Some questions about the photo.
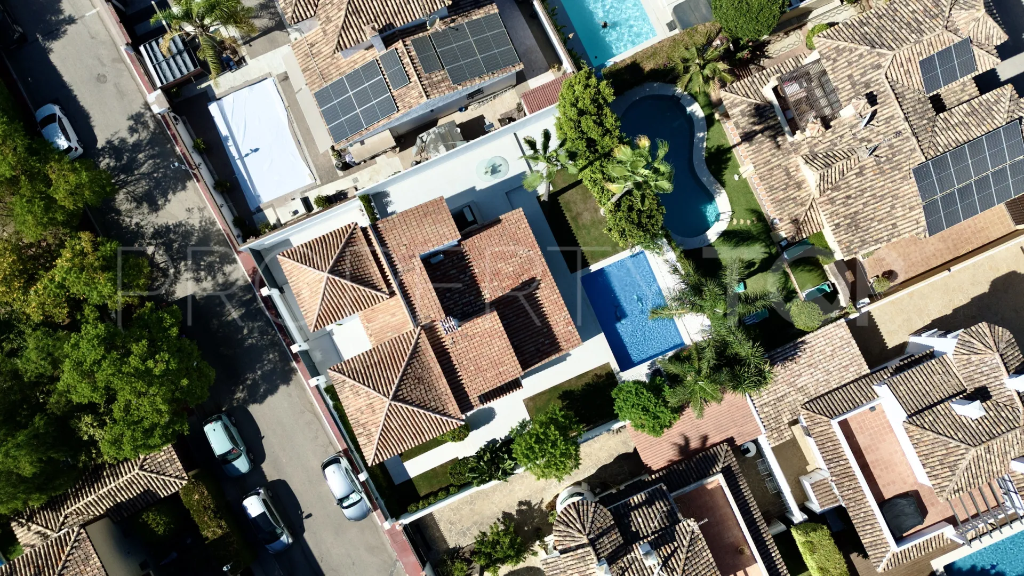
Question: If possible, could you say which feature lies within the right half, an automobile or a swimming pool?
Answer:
swimming pool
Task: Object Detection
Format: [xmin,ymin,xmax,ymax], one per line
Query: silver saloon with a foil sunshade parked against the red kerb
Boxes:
[321,444,373,515]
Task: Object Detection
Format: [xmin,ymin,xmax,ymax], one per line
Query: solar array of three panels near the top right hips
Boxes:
[918,38,976,94]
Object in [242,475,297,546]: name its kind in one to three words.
car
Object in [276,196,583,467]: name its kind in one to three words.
house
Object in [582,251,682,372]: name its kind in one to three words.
swimming pool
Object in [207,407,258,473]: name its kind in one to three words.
car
